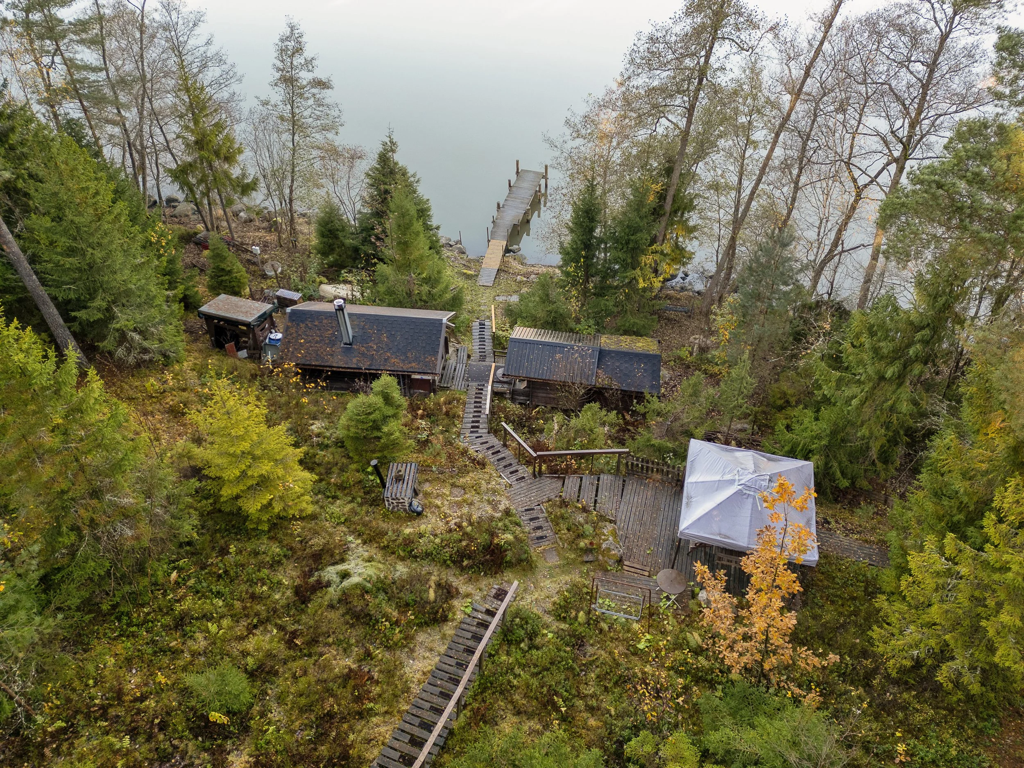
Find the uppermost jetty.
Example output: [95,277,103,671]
[491,158,550,242]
